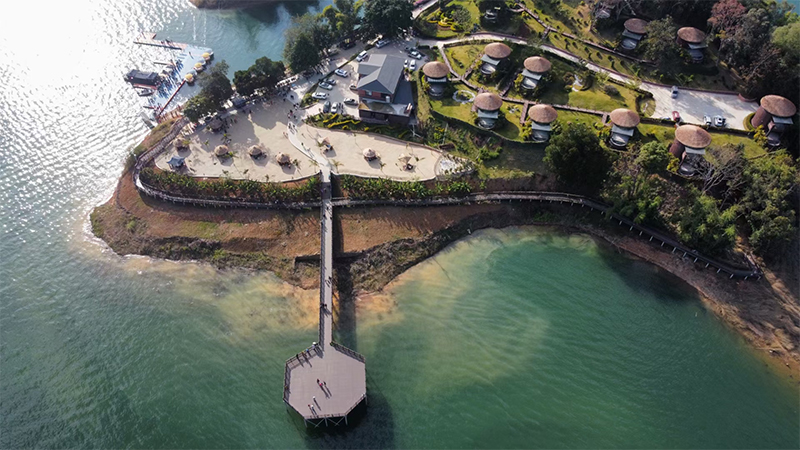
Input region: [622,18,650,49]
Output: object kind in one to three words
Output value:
house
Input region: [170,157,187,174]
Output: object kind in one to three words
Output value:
gazebo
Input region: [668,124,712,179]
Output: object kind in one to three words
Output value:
house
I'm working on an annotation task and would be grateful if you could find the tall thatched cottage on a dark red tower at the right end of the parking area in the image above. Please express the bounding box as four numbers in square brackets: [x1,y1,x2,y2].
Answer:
[750,95,799,145]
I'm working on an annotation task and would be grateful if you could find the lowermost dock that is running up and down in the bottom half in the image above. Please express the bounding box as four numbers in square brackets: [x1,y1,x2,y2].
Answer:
[284,172,367,424]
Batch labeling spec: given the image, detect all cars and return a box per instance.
[403,59,409,68]
[322,101,332,112]
[670,84,679,98]
[408,51,422,59]
[327,45,341,55]
[312,90,327,99]
[330,102,340,112]
[318,82,333,90]
[672,110,682,122]
[334,69,348,77]
[341,38,355,48]
[657,115,675,123]
[713,114,724,127]
[404,45,419,52]
[347,83,359,91]
[355,51,369,60]
[409,59,416,70]
[322,77,338,85]
[702,115,712,126]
